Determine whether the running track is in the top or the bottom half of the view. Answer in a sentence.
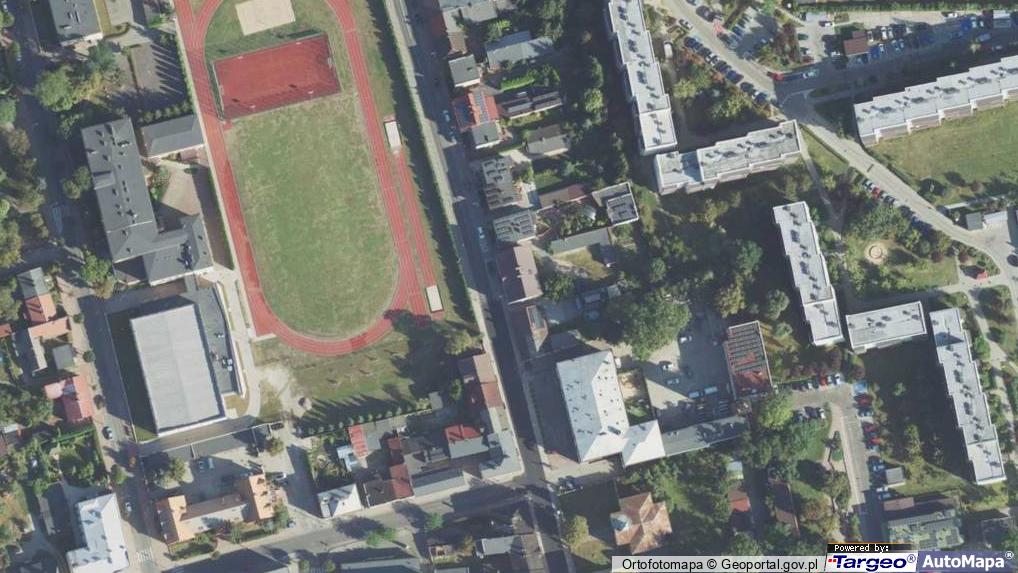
The top half of the photo is where the running track is.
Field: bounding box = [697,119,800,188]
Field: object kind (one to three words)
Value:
building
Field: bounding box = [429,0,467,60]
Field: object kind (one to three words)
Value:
house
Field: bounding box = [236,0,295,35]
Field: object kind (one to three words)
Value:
sports court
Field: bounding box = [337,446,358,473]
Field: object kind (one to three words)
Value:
shed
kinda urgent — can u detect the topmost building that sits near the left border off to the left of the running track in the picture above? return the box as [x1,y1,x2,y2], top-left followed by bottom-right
[51,0,105,48]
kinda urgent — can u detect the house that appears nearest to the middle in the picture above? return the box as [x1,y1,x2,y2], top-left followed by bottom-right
[497,243,542,307]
